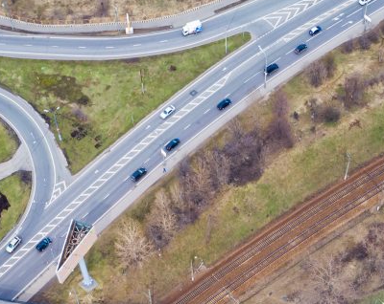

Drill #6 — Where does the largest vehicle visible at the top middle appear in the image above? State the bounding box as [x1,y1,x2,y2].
[180,20,204,39]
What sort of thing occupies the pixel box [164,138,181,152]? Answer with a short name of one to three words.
car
